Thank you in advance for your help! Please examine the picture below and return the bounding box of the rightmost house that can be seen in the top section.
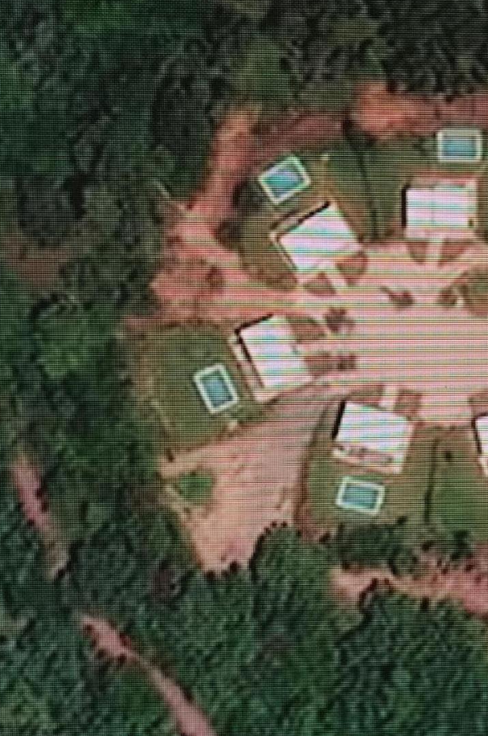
[404,177,478,257]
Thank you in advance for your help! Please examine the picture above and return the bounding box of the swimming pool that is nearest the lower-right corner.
[336,475,385,515]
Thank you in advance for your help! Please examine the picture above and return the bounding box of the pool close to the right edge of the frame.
[438,129,481,163]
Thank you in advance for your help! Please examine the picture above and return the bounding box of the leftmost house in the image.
[233,311,315,396]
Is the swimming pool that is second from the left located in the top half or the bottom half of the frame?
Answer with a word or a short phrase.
top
